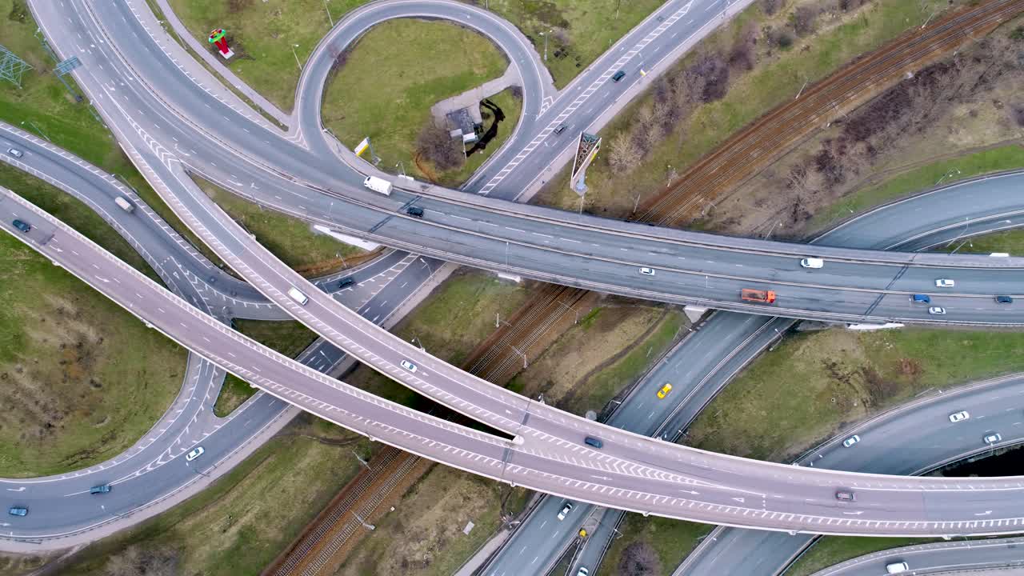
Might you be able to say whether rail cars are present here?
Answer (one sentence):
No, no rail car is visible in the view.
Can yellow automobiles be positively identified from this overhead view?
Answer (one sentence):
Yes, looking at the shot, I can spot a yellow automobile.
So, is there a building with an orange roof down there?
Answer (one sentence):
No, no building with an orange roof is visible in the scene.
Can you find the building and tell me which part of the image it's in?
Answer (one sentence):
The building appears toward the top of the photo.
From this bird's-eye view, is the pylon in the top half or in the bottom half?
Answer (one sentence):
The pylon is in the top half of the image.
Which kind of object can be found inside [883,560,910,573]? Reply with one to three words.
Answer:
vehicle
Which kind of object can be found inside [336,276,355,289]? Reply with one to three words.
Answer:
vehicle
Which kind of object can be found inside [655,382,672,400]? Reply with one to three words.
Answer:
car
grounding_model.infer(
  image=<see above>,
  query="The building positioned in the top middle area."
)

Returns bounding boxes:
[446,108,476,147]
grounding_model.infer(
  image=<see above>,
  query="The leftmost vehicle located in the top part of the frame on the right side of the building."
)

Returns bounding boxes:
[552,122,567,135]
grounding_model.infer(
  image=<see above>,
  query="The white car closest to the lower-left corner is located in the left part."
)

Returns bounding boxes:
[184,446,206,462]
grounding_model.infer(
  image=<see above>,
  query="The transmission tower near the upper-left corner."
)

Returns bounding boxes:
[0,39,34,89]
